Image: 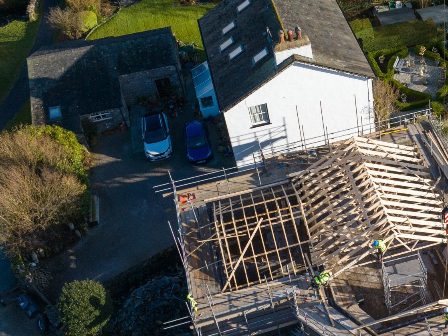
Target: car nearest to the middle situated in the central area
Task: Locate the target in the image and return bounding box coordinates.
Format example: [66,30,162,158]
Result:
[180,116,211,160]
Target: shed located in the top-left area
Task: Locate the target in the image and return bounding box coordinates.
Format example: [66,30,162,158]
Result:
[24,30,185,153]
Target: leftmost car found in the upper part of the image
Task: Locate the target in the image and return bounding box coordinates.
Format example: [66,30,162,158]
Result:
[142,108,175,154]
